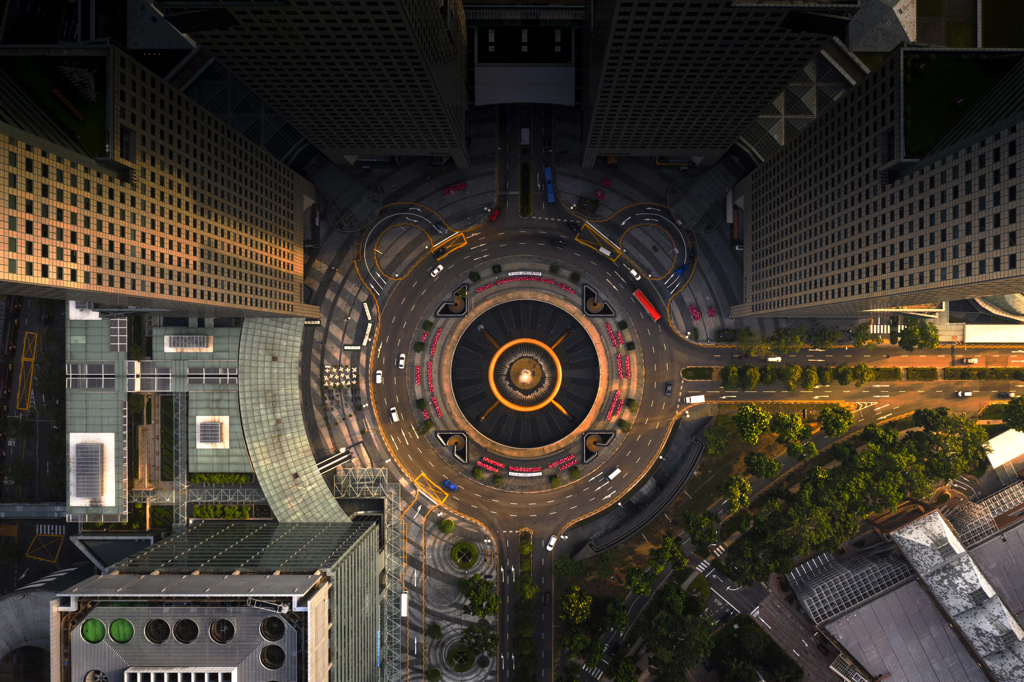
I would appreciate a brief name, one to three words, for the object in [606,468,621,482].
car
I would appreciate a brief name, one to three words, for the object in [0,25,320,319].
building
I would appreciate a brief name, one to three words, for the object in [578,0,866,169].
building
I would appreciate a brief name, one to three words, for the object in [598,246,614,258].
vehicle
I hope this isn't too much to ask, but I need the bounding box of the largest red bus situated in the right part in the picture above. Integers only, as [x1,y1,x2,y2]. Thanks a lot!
[632,288,661,322]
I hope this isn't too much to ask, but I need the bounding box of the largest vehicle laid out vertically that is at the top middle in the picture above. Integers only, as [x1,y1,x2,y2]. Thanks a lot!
[544,165,557,206]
